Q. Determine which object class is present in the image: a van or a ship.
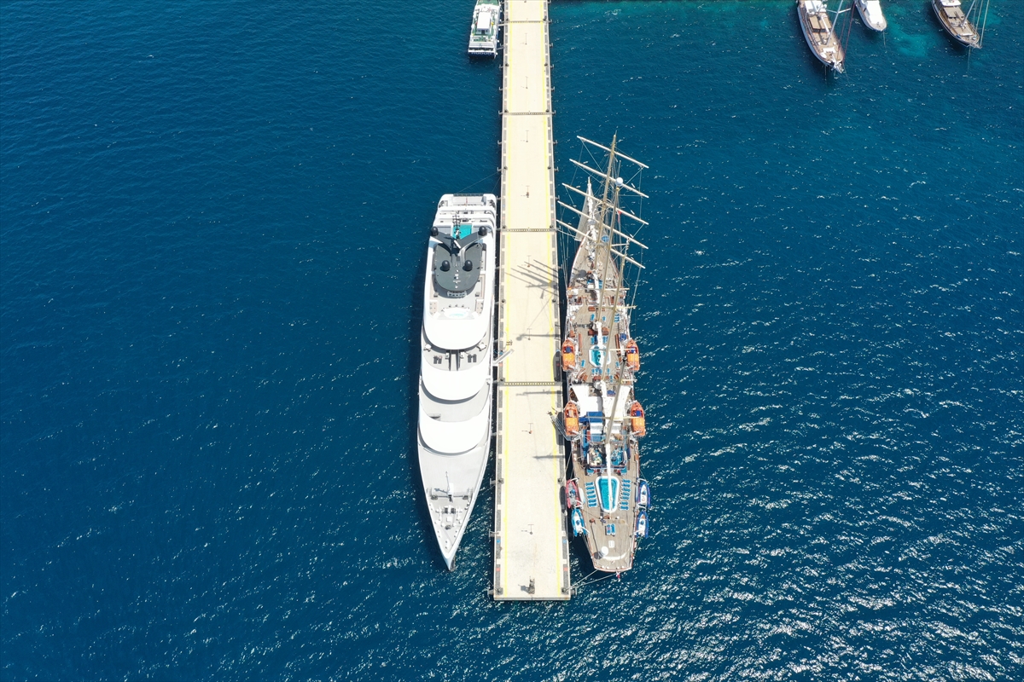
ship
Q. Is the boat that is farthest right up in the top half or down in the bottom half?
top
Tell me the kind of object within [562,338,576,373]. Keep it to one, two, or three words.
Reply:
boat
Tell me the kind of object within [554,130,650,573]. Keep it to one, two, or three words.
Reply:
ship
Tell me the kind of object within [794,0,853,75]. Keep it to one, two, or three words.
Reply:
boat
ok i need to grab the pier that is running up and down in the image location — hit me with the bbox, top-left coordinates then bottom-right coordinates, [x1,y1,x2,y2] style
[494,0,570,600]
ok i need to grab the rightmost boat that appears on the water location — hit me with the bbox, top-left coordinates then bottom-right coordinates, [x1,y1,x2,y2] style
[926,0,996,61]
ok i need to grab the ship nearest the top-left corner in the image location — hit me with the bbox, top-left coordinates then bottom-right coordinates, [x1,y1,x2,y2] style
[469,0,499,61]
